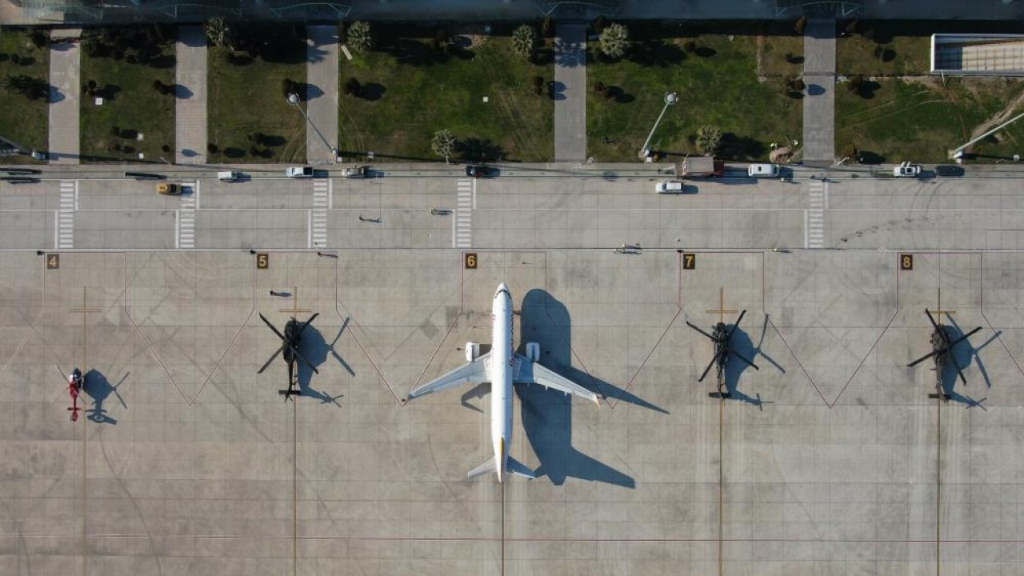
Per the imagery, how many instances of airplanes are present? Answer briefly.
1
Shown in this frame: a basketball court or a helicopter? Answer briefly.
helicopter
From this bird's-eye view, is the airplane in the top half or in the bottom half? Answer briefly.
bottom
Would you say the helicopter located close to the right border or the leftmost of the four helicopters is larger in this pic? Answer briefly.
the helicopter located close to the right border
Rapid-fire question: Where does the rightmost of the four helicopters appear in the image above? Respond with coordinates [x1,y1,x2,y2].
[906,308,982,406]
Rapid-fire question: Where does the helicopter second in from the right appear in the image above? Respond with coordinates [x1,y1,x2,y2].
[687,312,757,405]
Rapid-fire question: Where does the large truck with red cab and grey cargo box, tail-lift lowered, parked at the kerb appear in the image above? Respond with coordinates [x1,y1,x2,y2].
[673,156,722,178]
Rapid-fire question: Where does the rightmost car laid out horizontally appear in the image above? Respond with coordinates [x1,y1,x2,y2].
[938,163,966,176]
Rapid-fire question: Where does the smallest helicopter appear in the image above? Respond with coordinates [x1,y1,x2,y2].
[54,364,93,422]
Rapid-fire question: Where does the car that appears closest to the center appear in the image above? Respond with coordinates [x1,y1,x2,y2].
[466,164,488,176]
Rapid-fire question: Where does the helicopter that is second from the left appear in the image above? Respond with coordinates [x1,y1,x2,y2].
[259,313,321,404]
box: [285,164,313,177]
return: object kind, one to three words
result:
vehicle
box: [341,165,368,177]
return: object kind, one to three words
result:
vehicle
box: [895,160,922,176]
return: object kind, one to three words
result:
car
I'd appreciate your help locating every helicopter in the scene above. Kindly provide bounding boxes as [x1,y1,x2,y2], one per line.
[54,364,93,422]
[259,313,321,404]
[687,312,757,405]
[906,308,982,406]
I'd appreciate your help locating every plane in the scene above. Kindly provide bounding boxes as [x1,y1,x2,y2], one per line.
[406,283,599,484]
